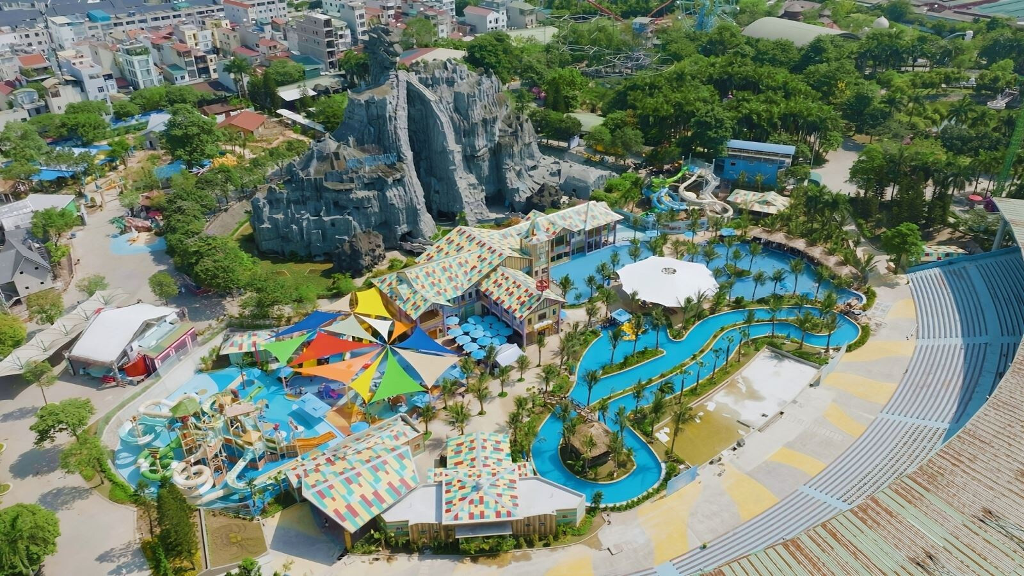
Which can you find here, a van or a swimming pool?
swimming pool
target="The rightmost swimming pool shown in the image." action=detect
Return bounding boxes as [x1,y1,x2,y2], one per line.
[684,240,863,305]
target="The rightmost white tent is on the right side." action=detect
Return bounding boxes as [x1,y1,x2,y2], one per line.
[616,256,719,321]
